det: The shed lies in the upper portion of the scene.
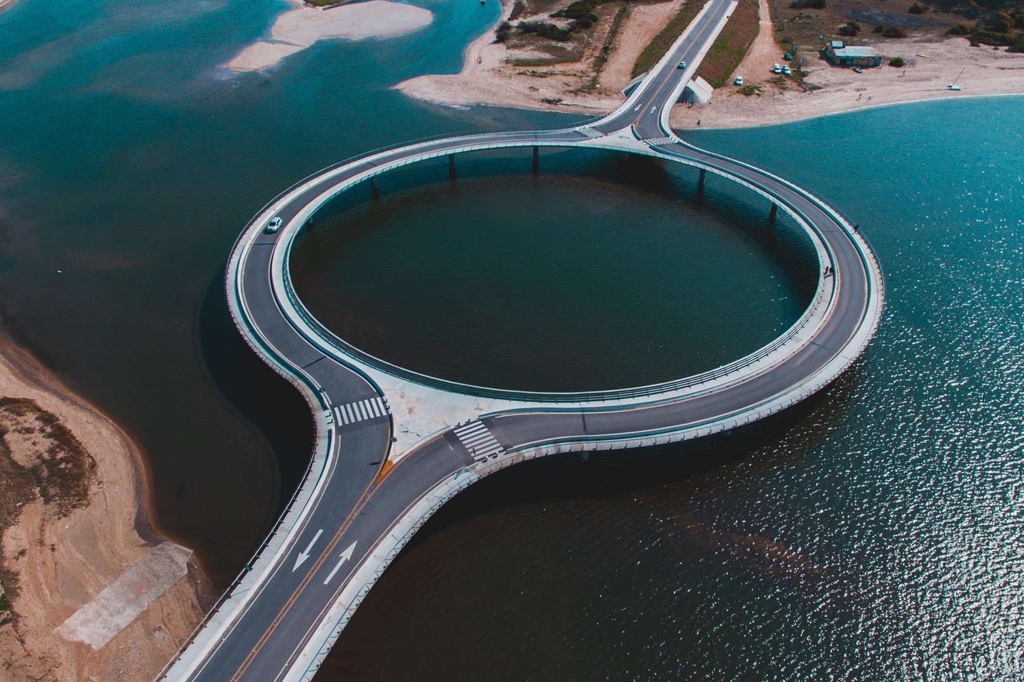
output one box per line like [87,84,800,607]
[825,40,889,67]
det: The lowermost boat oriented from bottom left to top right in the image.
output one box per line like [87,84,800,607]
[940,56,975,90]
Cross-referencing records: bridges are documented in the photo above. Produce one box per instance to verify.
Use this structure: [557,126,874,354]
[151,73,886,682]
